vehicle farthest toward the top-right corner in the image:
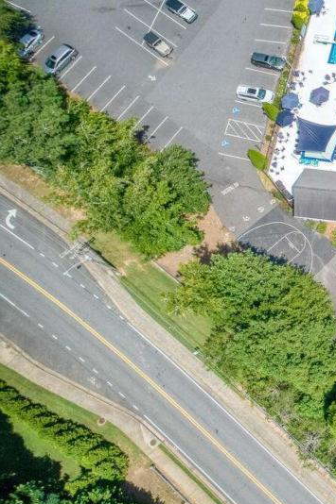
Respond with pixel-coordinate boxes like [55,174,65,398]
[252,53,285,71]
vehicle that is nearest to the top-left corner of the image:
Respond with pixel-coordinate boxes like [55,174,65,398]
[14,29,44,58]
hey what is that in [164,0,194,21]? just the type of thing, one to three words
vehicle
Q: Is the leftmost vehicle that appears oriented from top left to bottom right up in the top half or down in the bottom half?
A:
top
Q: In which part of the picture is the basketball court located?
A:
right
